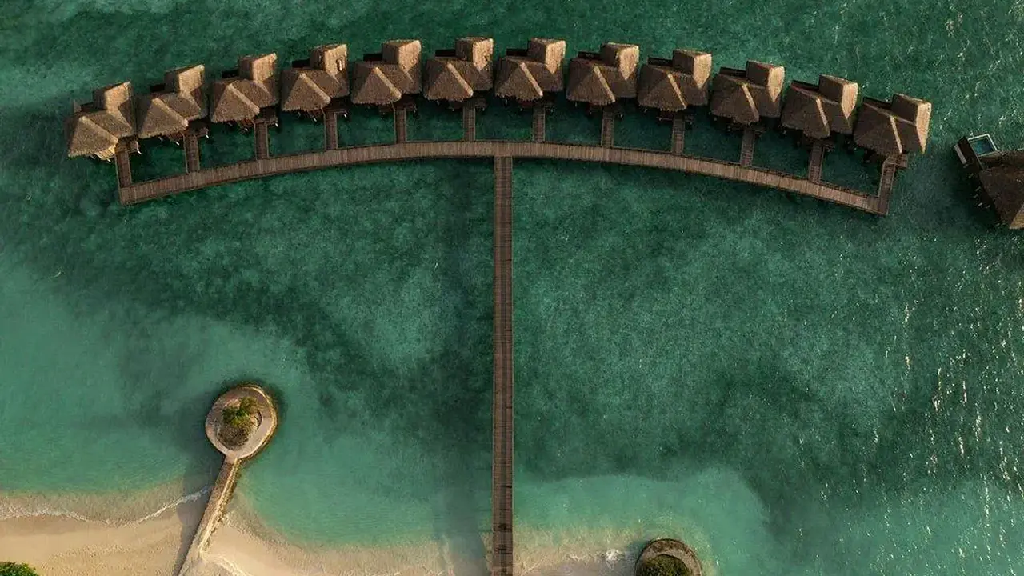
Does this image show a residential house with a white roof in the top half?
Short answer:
No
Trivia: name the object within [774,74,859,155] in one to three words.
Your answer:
house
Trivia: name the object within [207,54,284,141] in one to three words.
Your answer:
house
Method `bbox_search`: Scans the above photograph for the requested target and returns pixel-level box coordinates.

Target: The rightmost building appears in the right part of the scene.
[842,93,933,172]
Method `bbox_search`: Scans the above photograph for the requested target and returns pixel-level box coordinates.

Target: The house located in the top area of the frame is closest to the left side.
[63,82,150,169]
